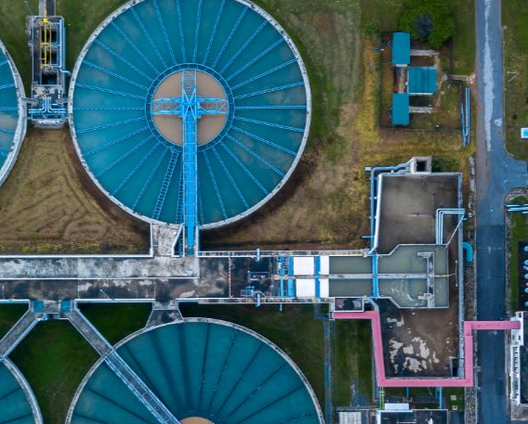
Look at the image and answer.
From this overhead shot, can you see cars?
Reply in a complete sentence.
No, the photo shows no car.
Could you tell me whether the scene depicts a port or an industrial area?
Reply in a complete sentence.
This image shows an industrial area.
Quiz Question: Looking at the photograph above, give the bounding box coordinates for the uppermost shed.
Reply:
[392,32,409,66]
